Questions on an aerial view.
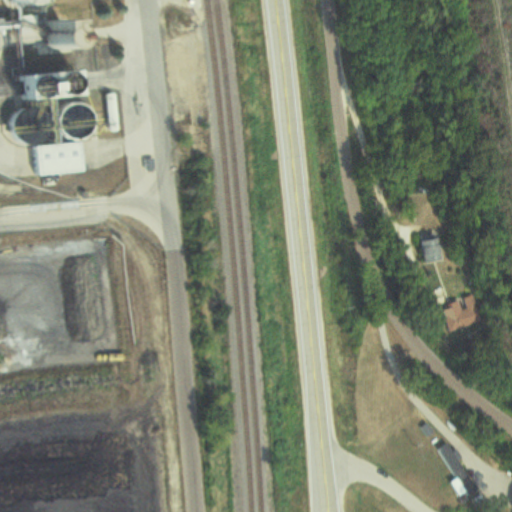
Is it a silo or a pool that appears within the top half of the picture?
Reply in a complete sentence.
It is a silo that can be seen within the top half of the picture.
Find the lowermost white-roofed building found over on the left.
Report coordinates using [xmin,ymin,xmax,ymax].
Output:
[34,142,85,186]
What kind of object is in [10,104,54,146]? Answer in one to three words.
storage tank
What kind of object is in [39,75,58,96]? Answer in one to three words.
silo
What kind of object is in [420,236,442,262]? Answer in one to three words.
house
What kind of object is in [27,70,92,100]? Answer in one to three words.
building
